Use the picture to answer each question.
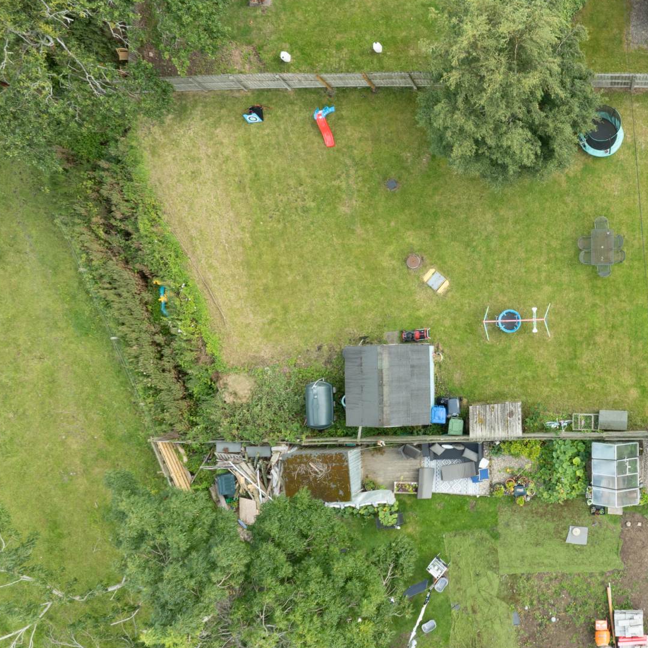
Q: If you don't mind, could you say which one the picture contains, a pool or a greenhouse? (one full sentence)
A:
It is a greenhouse that can be seen here.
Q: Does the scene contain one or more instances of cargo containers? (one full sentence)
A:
No, I can't see a single cargo container in this photo.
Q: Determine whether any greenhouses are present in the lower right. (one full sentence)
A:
Yes, I can see a greenhouse in the lower right.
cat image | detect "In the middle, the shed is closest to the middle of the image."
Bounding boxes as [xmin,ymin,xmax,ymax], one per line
[344,332,433,441]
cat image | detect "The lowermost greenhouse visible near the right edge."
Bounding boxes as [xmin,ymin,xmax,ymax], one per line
[590,441,640,510]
